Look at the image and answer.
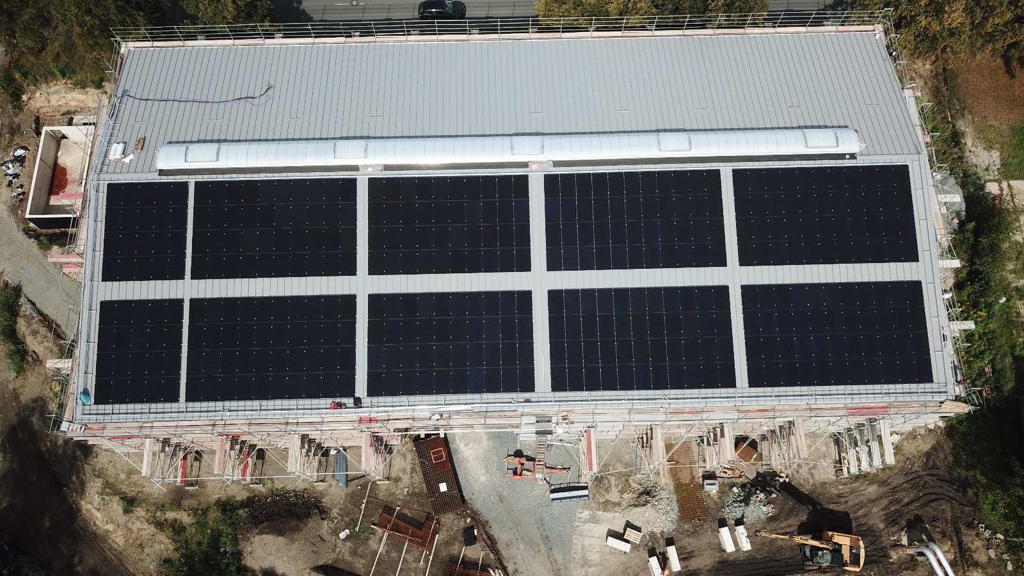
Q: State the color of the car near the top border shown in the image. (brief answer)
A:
black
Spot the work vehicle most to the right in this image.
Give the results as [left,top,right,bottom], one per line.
[749,525,866,572]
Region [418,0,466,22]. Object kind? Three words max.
car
